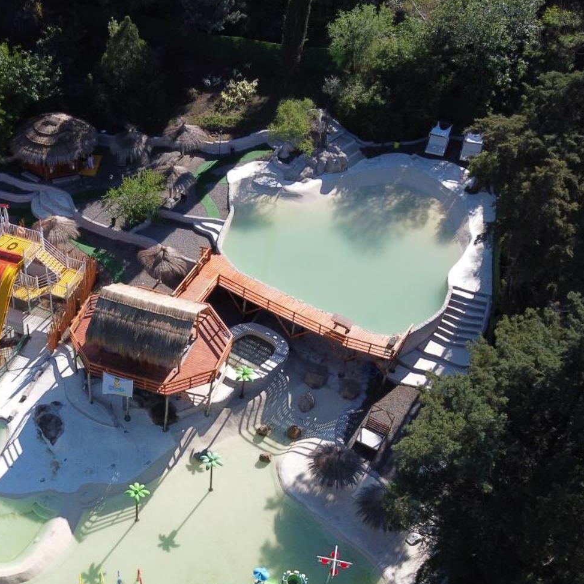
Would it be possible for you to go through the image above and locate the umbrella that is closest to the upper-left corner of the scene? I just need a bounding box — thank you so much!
[110,122,149,165]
